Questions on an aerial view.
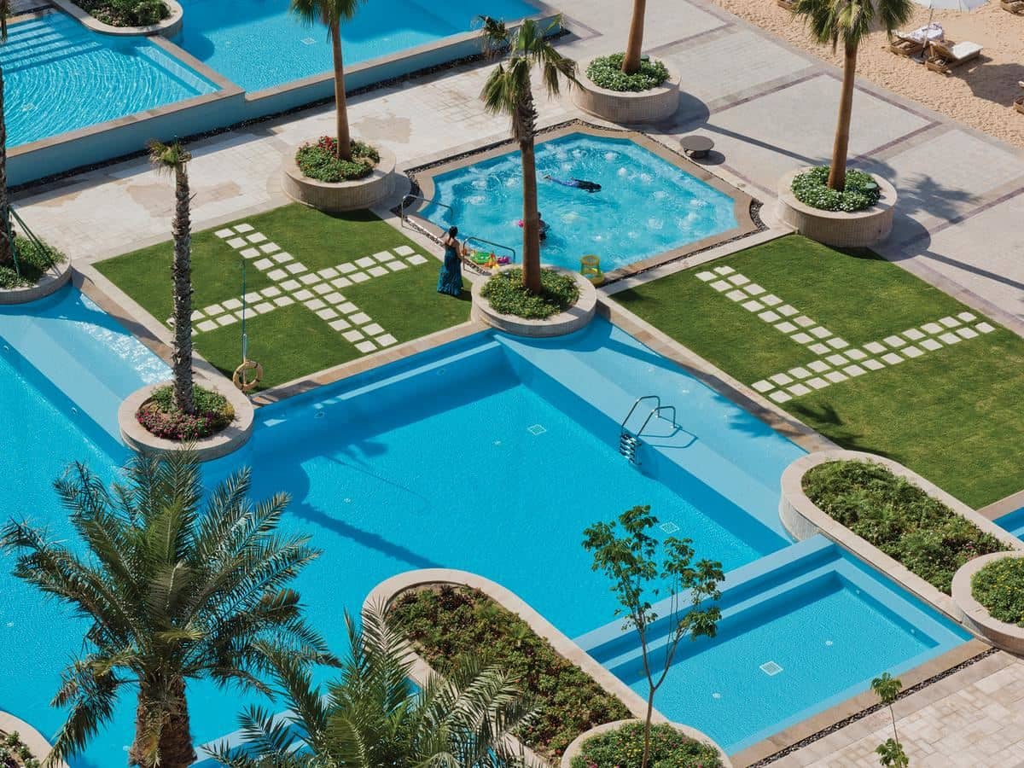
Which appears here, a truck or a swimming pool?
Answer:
swimming pool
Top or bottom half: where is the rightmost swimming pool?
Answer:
bottom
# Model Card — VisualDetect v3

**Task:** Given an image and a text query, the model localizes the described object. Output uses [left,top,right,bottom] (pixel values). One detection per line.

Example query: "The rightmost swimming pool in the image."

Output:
[1002,518,1024,542]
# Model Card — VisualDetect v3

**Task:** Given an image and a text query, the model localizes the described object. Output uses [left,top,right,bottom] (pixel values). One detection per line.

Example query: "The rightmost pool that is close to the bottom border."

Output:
[600,548,967,756]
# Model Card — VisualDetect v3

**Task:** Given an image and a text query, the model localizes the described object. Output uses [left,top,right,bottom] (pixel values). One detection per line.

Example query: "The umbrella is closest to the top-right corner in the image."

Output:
[905,0,1009,64]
